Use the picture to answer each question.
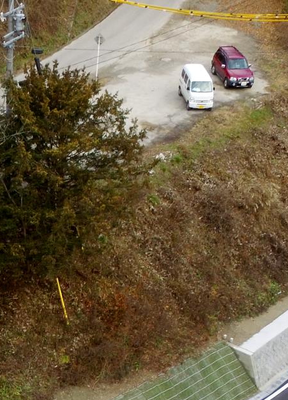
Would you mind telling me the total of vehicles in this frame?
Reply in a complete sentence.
Altogether the scene contains 2 vehicles.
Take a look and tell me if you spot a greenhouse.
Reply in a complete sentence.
No, there's no greenhouse here.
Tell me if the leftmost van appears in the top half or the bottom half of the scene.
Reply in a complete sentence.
Seen from above, the leftmost van lies in the top half of the view.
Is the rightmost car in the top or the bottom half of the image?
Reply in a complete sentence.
The rightmost car is in the top half of the image.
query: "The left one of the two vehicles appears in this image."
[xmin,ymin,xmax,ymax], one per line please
[183,55,220,101]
